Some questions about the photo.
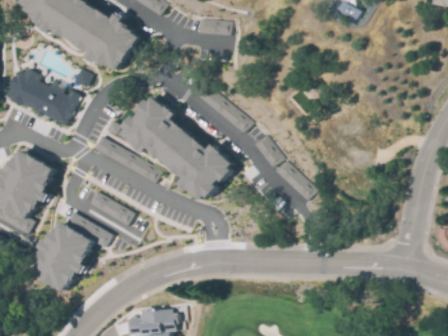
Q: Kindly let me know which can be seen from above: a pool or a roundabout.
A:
pool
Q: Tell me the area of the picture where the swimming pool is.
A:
top left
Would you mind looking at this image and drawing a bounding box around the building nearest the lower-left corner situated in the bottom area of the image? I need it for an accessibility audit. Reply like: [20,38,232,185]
[38,224,97,289]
